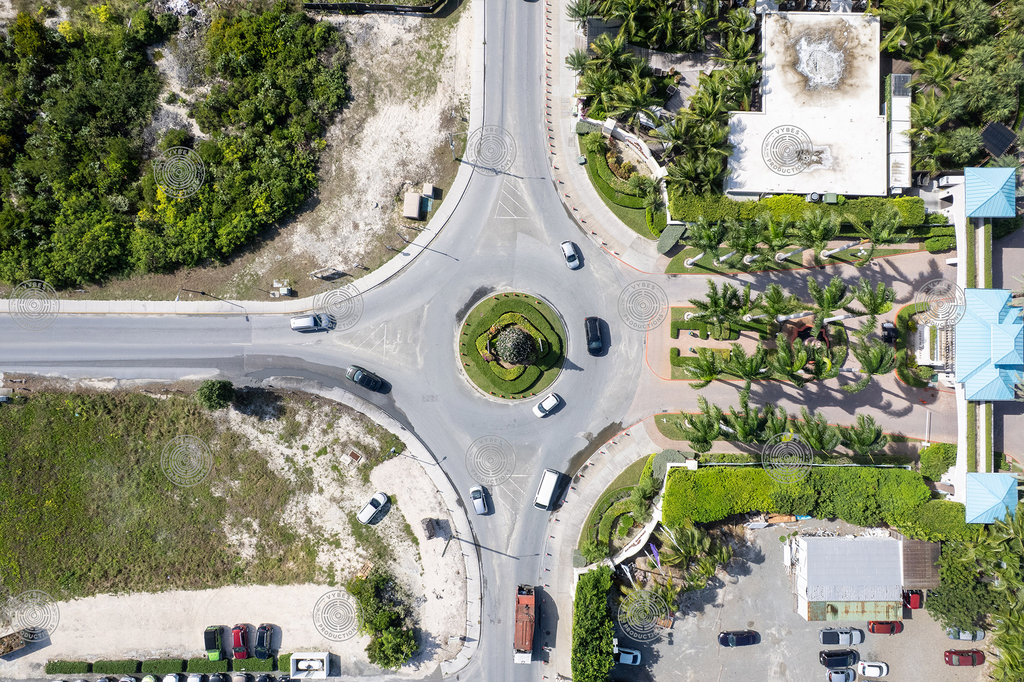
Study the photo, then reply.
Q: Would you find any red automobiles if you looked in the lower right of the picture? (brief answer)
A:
Yes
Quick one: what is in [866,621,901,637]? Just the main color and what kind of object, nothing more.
red car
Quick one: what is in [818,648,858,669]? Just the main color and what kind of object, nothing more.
black car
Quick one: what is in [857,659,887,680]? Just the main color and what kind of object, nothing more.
white car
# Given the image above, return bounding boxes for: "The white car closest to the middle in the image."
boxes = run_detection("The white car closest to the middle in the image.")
[532,390,560,420]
